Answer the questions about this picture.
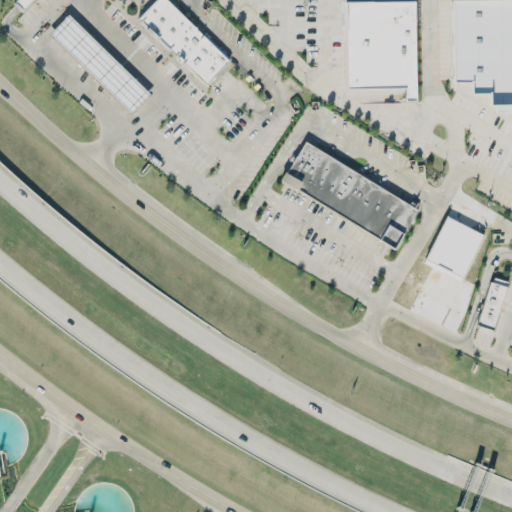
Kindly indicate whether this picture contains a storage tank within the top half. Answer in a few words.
No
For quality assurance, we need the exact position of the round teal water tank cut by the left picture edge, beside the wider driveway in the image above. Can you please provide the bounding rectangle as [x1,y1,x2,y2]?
[0,408,28,478]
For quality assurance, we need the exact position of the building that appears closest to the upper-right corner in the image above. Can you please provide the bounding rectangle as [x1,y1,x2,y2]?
[454,1,512,106]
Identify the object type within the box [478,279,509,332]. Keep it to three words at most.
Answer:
building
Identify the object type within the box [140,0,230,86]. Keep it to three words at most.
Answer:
building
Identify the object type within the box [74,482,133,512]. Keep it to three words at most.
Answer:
storage tank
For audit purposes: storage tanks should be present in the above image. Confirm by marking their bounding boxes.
[0,408,28,478]
[74,482,133,512]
